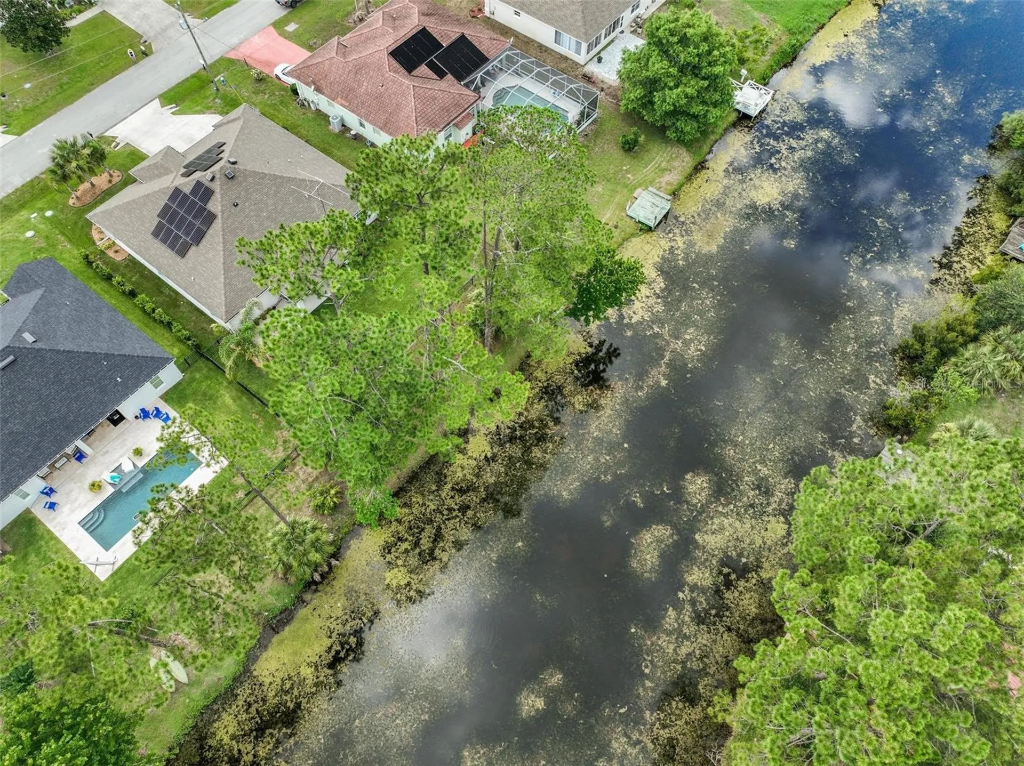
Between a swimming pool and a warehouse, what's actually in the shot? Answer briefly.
swimming pool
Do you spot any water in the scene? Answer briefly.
Yes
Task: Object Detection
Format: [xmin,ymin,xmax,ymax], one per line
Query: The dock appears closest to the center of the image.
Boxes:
[626,185,680,237]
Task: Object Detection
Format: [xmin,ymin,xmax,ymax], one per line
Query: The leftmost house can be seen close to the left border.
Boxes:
[0,255,185,533]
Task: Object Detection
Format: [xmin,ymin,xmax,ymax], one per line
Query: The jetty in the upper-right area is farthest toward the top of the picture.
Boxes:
[723,71,783,123]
